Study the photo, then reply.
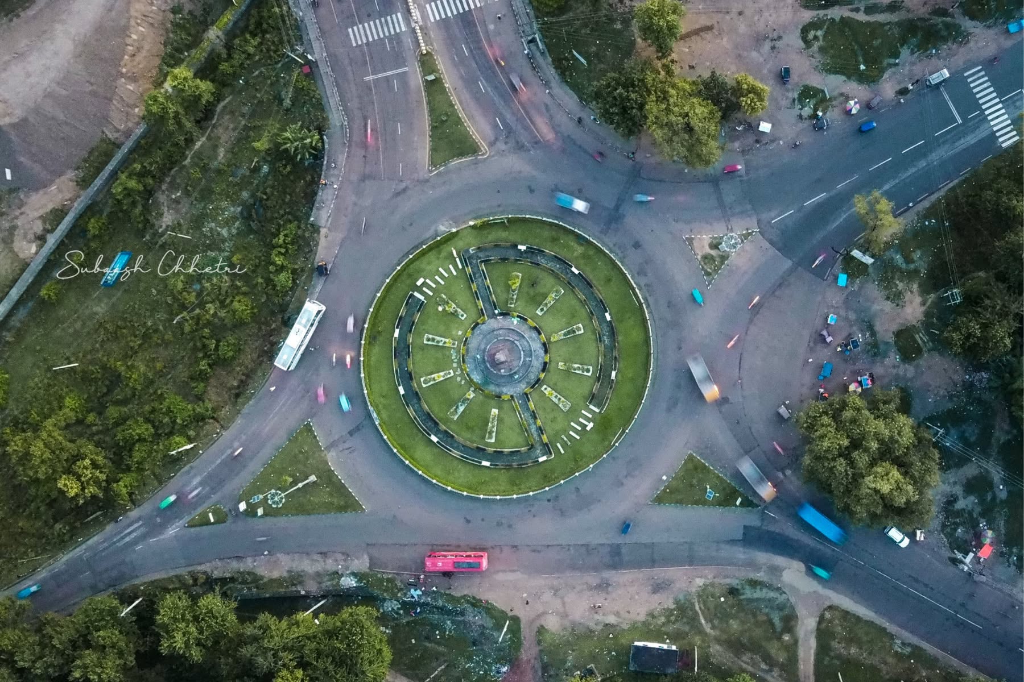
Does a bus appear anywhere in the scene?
Yes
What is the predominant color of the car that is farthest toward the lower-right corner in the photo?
white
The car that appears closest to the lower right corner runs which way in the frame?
on a diagonal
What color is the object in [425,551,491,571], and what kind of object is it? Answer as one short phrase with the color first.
pink bus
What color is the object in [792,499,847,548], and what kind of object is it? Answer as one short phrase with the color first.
blue truck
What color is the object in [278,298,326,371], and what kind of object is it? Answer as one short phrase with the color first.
white bus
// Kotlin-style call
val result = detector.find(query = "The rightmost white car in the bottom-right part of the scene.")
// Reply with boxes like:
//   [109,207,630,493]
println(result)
[881,525,908,548]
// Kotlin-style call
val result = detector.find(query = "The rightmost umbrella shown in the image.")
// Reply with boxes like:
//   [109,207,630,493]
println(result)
[978,529,995,544]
